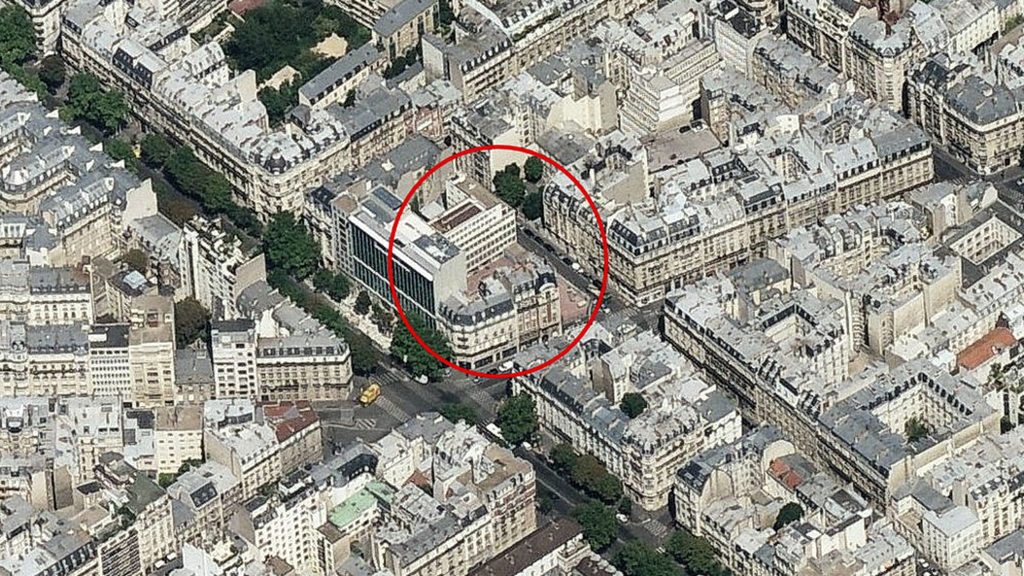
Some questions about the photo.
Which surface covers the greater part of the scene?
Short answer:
buildings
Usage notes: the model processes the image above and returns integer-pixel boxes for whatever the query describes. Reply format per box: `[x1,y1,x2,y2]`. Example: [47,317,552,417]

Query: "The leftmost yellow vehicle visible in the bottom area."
[359,380,380,405]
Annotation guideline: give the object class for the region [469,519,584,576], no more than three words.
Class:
building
